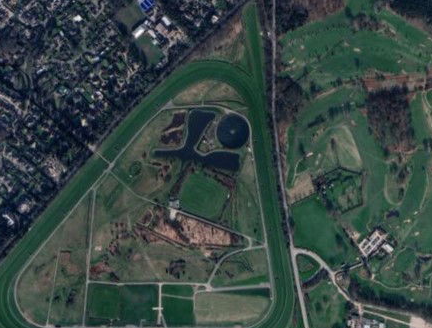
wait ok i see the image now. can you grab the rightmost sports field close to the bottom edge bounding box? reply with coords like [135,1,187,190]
[162,286,193,326]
